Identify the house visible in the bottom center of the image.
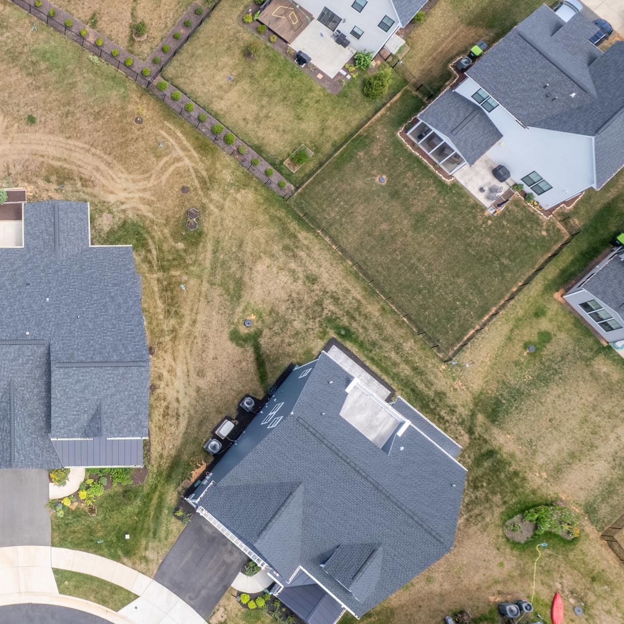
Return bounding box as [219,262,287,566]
[184,349,467,624]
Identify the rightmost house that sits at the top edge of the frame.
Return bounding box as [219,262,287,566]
[407,1,624,212]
